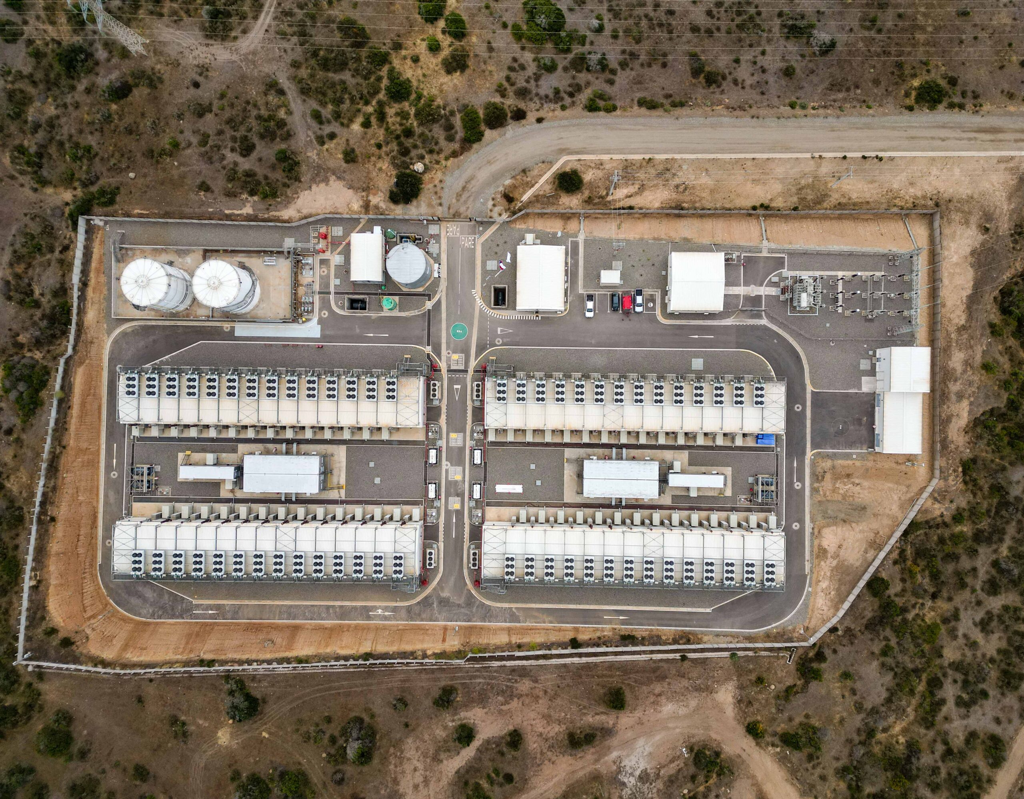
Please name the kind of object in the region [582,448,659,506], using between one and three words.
house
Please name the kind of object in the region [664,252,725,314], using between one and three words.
building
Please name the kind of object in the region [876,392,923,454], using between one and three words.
building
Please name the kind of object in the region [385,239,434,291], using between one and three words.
water tank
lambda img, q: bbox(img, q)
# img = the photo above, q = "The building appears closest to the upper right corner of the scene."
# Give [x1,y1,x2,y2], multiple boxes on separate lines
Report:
[876,347,931,392]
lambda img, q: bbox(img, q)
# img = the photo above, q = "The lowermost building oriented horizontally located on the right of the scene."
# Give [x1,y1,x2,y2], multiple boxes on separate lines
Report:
[477,515,786,596]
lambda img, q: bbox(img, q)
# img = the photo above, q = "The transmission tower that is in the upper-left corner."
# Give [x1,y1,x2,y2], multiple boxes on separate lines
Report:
[63,0,152,57]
